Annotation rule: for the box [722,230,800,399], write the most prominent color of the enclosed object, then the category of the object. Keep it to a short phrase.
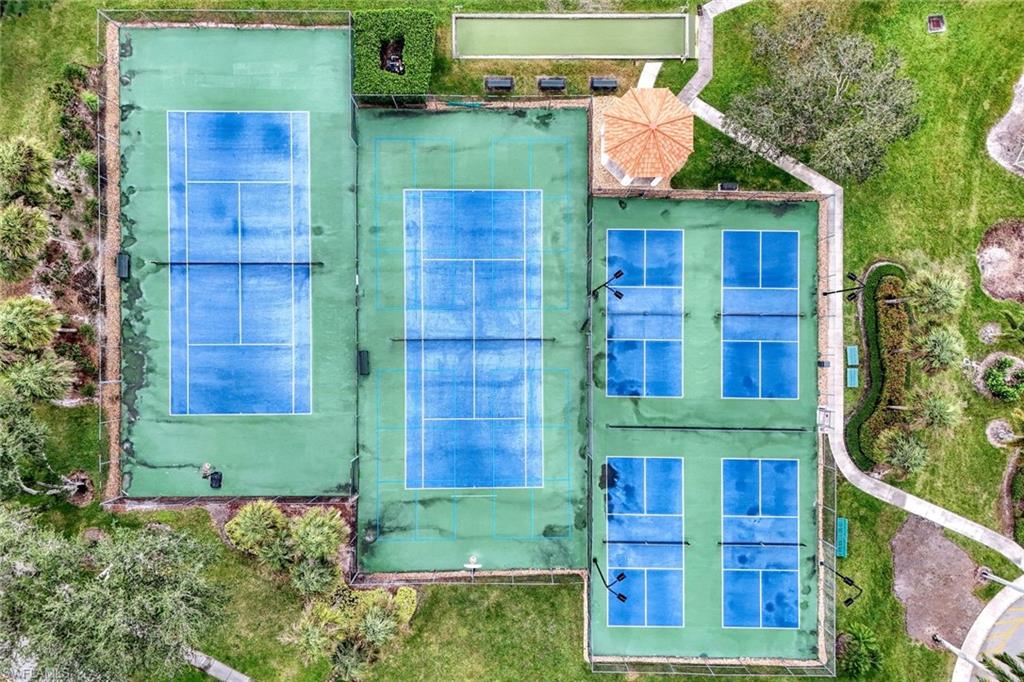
blue sports court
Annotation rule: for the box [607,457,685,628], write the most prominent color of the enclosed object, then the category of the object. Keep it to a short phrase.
blue sports court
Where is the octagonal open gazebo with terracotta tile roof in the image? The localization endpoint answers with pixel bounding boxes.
[599,89,693,185]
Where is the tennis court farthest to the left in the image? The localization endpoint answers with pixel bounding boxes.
[119,27,357,497]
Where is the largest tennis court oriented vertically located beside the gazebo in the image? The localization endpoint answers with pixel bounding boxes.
[357,107,588,574]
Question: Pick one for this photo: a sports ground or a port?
sports ground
